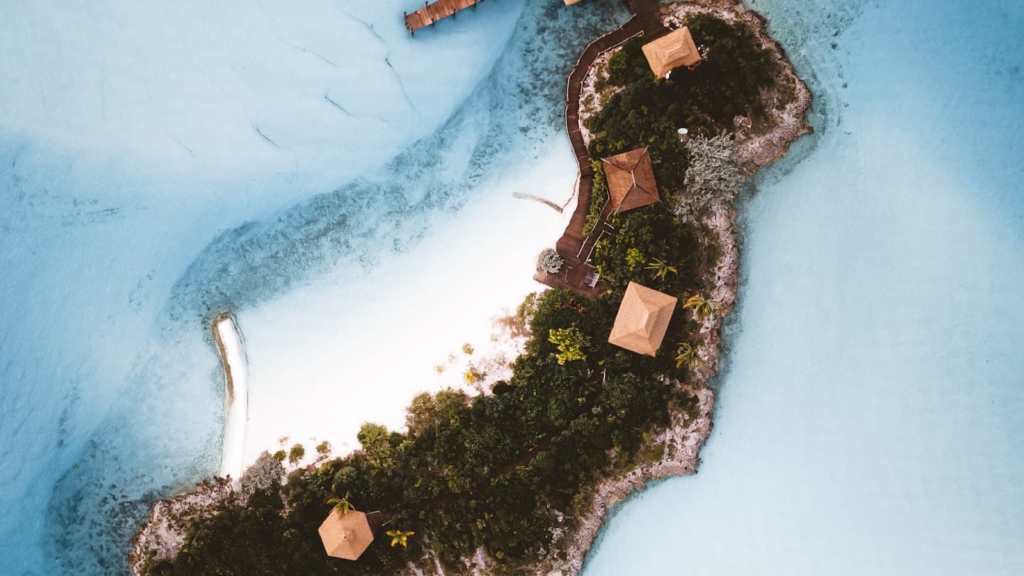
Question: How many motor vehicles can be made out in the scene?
0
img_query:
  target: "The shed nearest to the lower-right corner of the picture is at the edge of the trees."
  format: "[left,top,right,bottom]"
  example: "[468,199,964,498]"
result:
[608,281,677,358]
